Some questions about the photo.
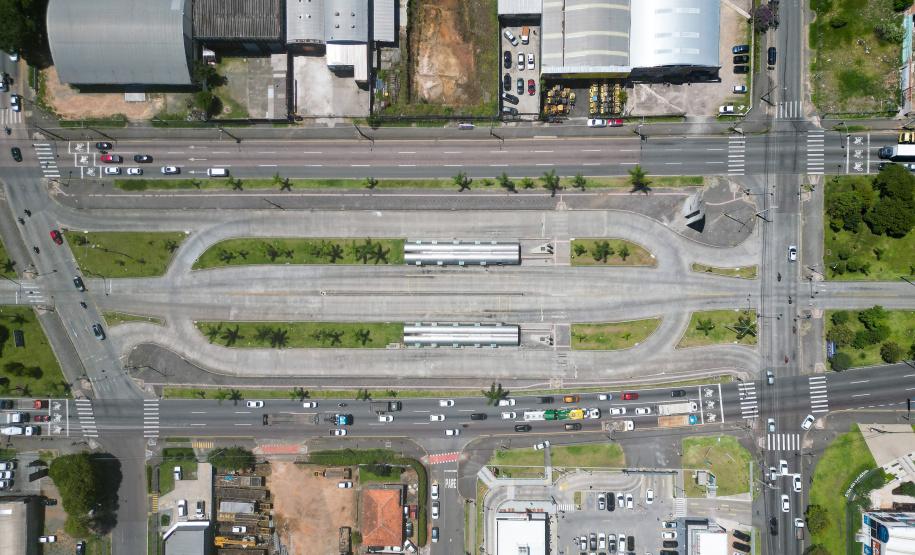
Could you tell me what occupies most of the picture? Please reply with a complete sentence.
The largest share of the image is taken up by paved ground.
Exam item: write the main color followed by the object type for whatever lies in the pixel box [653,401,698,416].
white vehicle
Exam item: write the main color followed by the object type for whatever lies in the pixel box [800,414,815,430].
white car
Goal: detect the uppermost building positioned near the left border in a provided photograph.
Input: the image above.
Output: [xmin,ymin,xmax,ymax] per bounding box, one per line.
[46,0,198,88]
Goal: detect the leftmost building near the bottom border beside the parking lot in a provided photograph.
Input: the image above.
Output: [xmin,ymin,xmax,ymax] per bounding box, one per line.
[496,502,547,555]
